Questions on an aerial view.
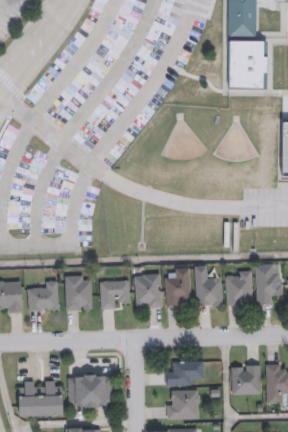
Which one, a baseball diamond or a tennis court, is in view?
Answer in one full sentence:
Of the two, only a baseball diamond appears.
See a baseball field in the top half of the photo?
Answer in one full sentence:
Yes, the scene does show a baseball field in the top half of the photo.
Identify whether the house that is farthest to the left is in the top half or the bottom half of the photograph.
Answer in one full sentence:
The house that is farthest to the left sits in the bottom half of the picture.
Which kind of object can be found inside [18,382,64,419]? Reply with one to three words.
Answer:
house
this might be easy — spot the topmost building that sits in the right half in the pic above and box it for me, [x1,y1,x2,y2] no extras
[229,0,258,36]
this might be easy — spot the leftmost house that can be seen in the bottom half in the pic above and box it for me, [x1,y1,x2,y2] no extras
[0,282,22,312]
